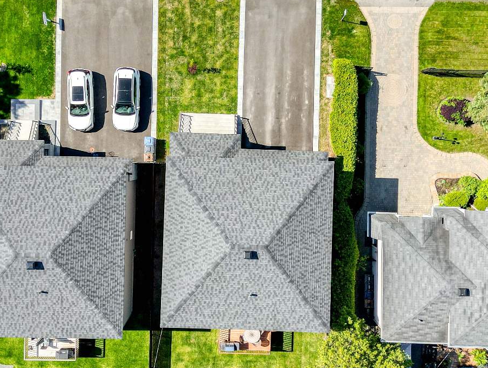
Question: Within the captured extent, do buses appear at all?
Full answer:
No, the photo shows no bus.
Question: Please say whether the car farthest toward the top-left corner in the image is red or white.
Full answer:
The car farthest toward the top-left corner looks white in the image.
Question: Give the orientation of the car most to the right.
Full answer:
Seen from above, the car most to the right lies vertically.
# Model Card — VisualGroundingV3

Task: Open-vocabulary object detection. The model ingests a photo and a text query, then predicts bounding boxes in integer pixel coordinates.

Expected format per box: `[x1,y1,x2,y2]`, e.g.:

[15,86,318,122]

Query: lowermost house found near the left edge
[0,138,136,340]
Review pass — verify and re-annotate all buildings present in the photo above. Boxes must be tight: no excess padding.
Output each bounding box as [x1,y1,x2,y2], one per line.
[0,138,136,340]
[159,131,336,333]
[366,208,488,348]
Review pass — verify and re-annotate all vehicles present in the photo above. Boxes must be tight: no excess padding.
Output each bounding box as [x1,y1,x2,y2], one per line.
[109,66,141,132]
[63,67,95,131]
